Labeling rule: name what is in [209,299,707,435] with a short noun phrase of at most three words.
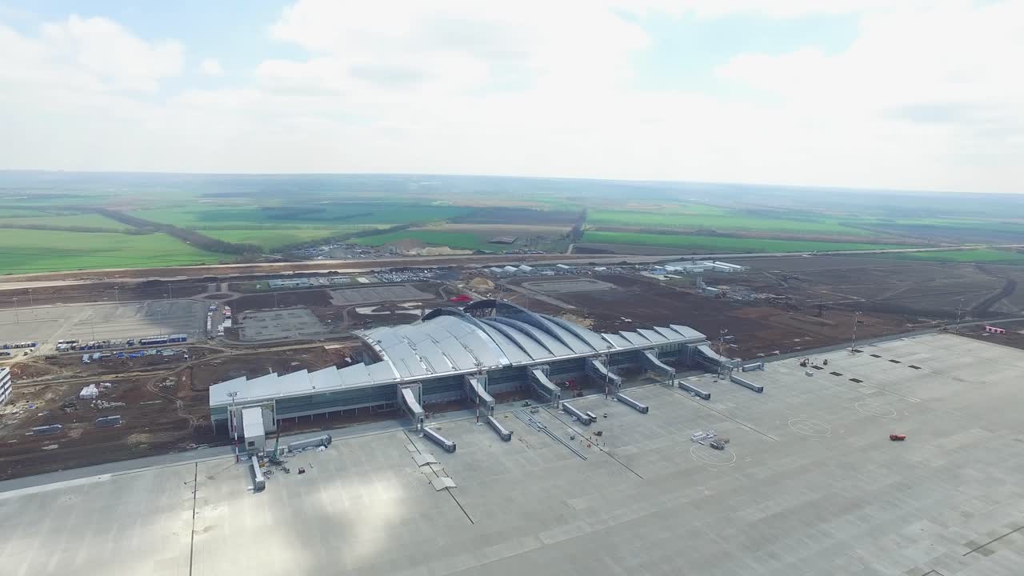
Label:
building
